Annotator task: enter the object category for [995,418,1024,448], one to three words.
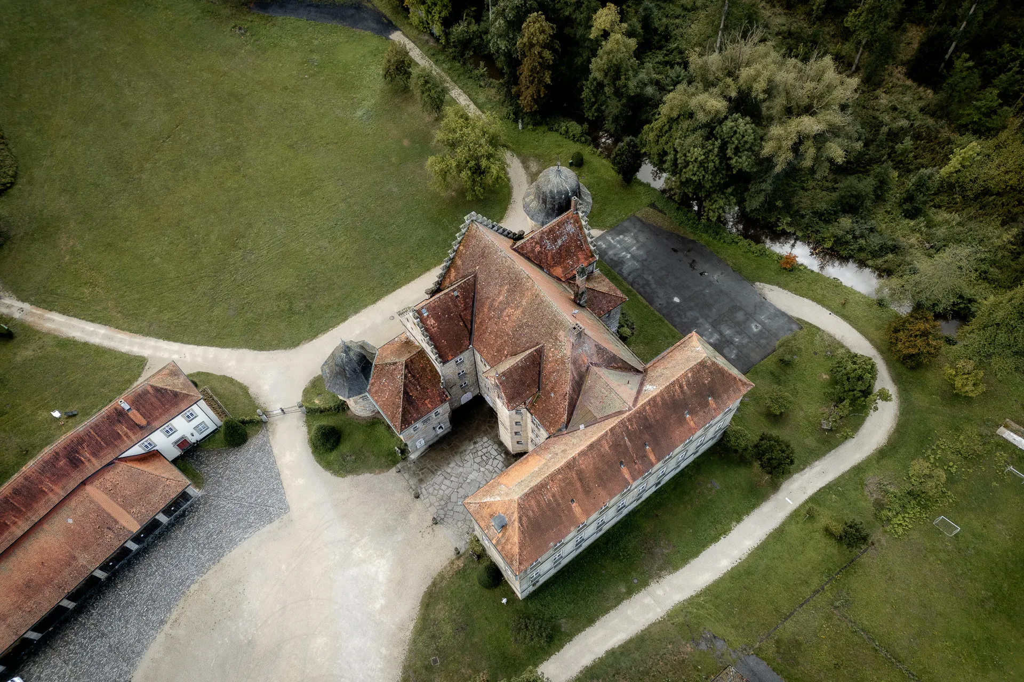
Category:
shed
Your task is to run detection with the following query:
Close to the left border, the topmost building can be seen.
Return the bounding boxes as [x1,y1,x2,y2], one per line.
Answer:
[0,360,221,557]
